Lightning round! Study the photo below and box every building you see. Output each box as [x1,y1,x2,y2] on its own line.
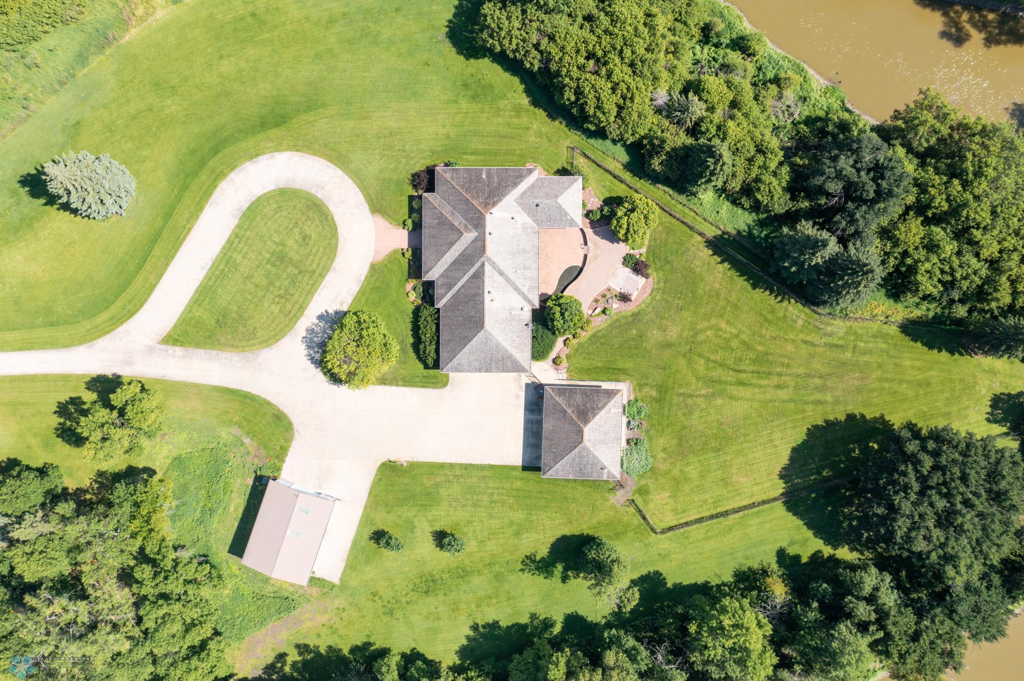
[422,167,583,373]
[241,476,339,586]
[541,386,624,481]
